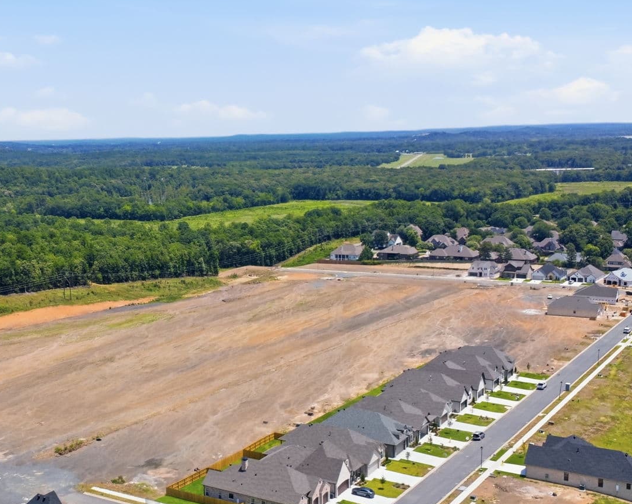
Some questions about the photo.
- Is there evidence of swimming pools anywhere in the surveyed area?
No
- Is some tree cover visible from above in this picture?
Yes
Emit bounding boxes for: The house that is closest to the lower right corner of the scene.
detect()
[523,430,632,504]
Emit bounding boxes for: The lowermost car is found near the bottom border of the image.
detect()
[353,485,379,498]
